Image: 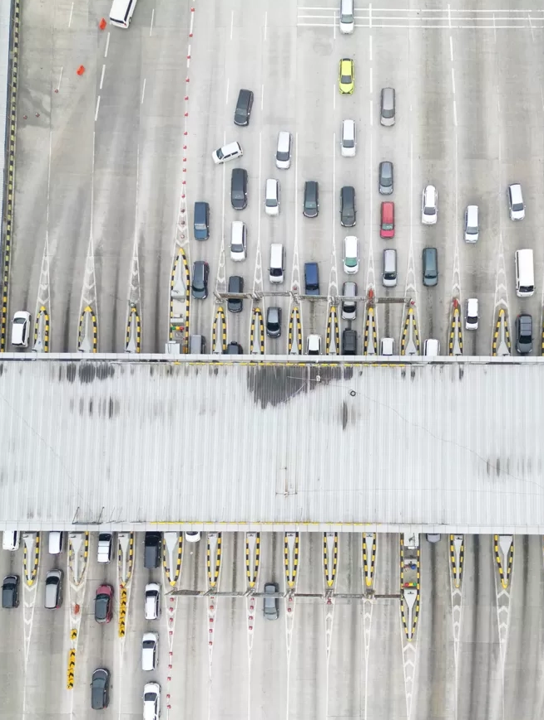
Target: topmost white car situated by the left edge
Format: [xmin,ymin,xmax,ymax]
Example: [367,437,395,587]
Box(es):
[14,314,32,345]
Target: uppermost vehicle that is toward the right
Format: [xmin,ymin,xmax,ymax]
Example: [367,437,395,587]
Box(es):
[338,0,355,32]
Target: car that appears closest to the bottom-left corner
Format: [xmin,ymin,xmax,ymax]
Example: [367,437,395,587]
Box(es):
[91,669,110,710]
